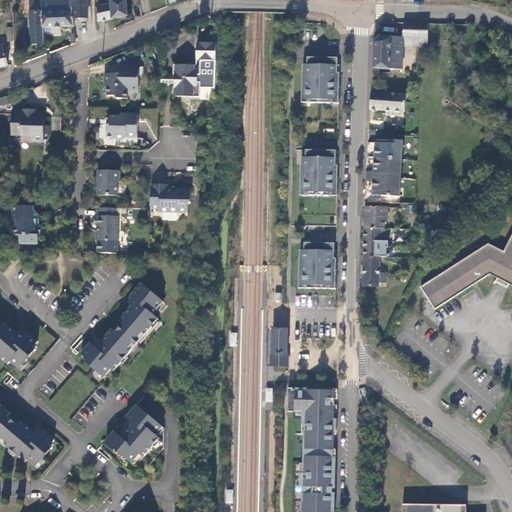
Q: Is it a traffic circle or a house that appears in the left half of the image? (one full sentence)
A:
Looking in the left half of the image, you will find a house.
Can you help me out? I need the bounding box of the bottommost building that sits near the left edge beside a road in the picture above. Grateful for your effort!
[0,400,58,475]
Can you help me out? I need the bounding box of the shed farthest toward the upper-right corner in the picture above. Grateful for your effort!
[402,29,428,50]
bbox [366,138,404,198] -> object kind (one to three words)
house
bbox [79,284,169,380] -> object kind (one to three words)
building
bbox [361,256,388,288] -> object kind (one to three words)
house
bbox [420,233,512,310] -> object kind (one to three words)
building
